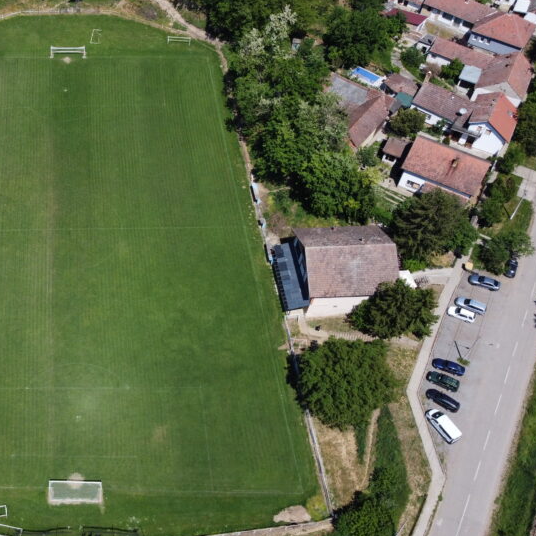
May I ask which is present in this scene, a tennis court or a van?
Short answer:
van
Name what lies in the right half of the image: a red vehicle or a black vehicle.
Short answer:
black vehicle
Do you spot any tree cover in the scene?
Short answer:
Yes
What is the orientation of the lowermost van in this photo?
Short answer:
at an angle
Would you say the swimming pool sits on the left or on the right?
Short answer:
right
